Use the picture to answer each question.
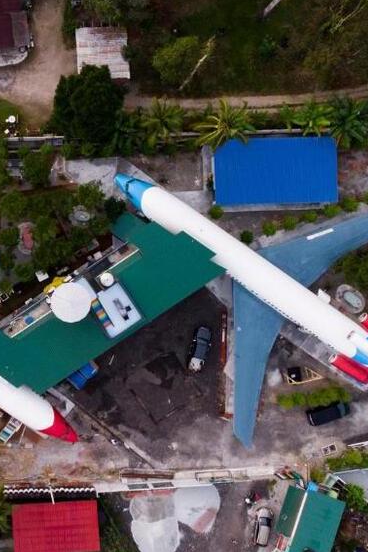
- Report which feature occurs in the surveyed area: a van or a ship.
van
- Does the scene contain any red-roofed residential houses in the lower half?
Yes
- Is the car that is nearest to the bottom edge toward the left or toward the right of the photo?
right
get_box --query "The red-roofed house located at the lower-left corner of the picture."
[12,497,101,552]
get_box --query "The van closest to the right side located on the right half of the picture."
[303,400,349,428]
